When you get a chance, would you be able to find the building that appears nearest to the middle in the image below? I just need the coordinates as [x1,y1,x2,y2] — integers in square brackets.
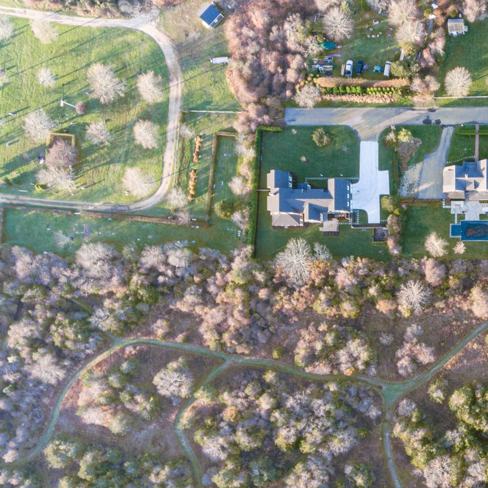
[267,167,353,232]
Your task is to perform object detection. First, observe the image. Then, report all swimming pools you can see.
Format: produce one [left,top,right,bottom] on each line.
[462,221,488,240]
[451,224,462,236]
